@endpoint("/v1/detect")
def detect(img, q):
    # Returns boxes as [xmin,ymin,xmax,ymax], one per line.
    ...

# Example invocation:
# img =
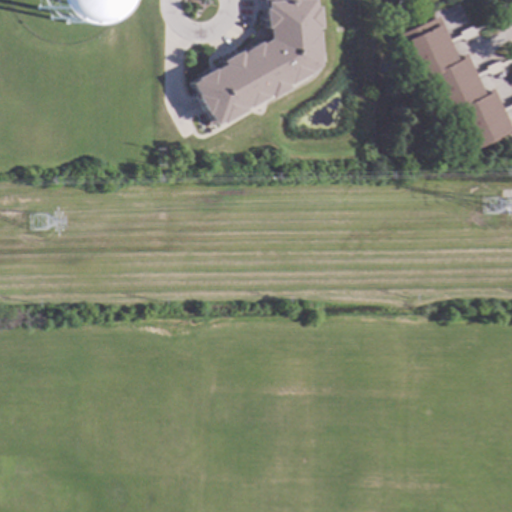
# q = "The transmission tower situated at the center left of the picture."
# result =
[30,206,66,237]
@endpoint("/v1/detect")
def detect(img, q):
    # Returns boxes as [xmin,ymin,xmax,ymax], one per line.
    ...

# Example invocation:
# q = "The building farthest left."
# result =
[190,0,328,122]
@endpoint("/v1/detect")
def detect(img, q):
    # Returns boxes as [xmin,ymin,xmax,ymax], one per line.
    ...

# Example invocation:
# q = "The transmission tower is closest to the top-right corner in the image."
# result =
[483,194,512,216]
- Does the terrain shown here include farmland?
Yes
